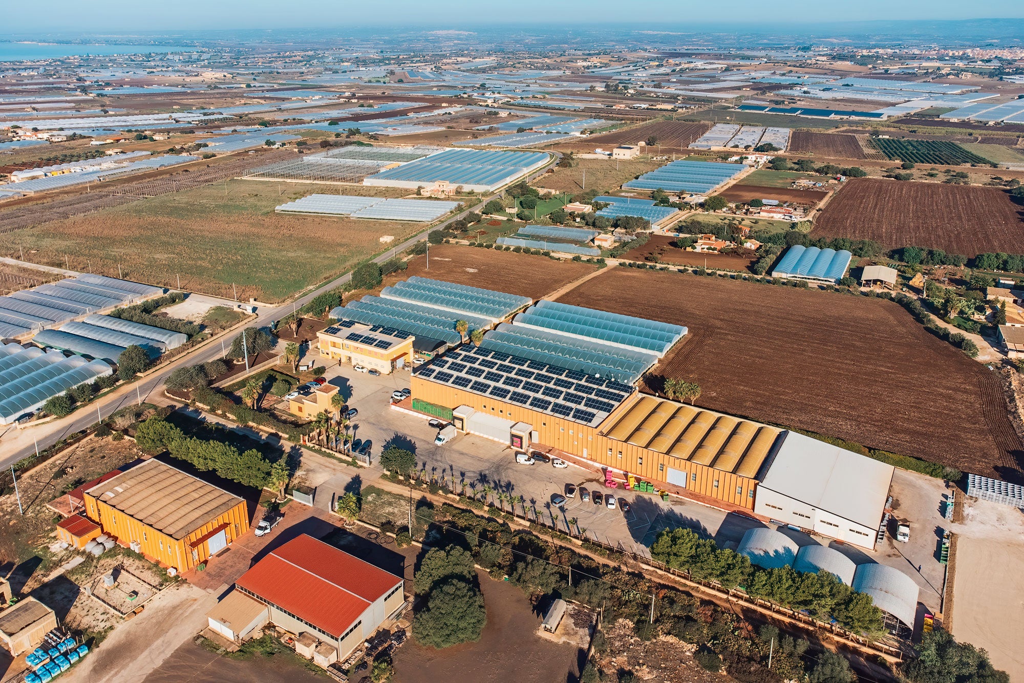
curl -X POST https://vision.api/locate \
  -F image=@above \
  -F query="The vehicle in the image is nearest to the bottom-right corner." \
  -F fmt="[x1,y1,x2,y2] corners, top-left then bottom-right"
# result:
[898,518,910,540]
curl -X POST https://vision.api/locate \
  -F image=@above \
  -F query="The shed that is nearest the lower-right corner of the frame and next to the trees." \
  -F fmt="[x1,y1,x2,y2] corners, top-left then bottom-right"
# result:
[853,563,920,648]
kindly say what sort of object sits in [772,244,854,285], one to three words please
greenhouse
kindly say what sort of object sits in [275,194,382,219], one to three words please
greenhouse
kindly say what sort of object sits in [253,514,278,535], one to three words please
truck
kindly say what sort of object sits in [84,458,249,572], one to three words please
warehouse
